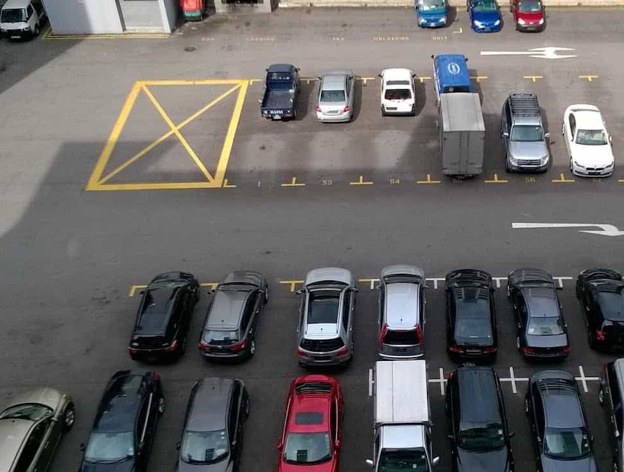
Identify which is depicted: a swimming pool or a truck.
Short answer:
truck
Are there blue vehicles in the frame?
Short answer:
Yes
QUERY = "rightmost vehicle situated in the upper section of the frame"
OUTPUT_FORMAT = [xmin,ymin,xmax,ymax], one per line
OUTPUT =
[563,106,618,178]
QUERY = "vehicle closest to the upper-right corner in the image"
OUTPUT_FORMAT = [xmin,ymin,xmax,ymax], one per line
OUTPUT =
[510,0,548,32]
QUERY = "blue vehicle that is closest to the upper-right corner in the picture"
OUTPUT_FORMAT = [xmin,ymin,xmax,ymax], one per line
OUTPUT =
[469,0,505,32]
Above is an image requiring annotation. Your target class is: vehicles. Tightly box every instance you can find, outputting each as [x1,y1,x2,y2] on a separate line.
[445,368,519,472]
[501,88,551,170]
[271,375,346,472]
[508,267,573,360]
[378,70,417,116]
[314,67,357,122]
[430,56,487,176]
[439,268,500,362]
[257,63,302,119]
[0,0,50,39]
[525,370,606,472]
[563,106,618,178]
[194,270,269,364]
[123,270,201,363]
[599,362,624,472]
[510,0,548,32]
[469,0,505,32]
[578,267,624,354]
[165,376,249,472]
[296,267,357,365]
[415,0,450,27]
[366,363,441,472]
[373,268,433,363]
[0,390,78,472]
[71,371,166,472]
